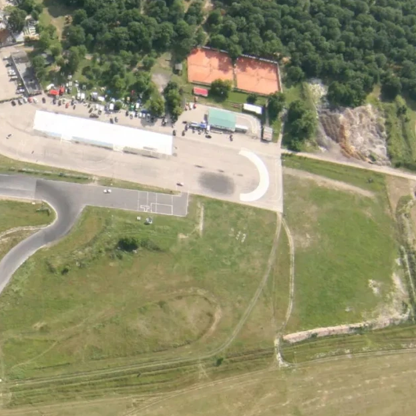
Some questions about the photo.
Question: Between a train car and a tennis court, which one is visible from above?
tennis court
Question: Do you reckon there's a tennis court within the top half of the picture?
Yes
